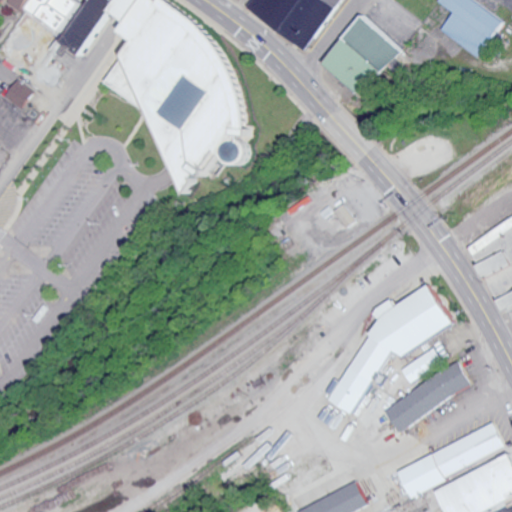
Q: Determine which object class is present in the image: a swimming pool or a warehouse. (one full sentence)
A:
Of the two, only a warehouse appears.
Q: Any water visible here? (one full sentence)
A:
No, no water is visible.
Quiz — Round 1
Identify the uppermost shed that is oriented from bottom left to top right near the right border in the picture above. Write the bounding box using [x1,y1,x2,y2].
[468,217,512,254]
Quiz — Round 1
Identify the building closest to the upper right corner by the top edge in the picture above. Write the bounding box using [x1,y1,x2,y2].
[440,0,504,61]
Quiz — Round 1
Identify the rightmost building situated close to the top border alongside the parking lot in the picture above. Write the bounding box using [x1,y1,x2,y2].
[102,0,253,196]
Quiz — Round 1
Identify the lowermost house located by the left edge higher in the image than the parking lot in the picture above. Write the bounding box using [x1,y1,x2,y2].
[6,79,36,109]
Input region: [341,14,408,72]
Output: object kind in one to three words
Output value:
building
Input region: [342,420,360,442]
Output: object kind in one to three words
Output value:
vehicle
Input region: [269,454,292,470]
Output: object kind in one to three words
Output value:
vehicle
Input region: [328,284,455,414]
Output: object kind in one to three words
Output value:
warehouse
